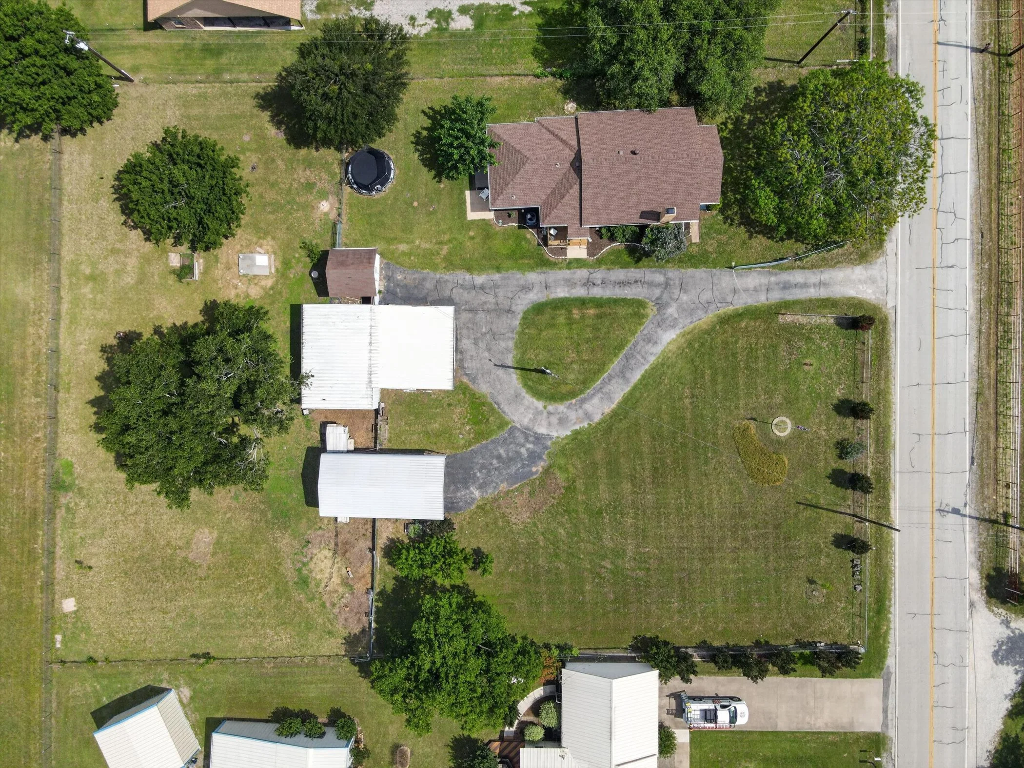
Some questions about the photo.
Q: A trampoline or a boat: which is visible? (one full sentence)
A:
There is a trampoline in the scene.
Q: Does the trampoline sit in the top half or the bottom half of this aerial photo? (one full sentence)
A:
It is in the top half that the trampoline appears.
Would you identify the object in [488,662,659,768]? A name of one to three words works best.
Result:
house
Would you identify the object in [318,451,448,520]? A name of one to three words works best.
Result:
building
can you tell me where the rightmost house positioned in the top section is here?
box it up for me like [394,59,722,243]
[485,106,723,248]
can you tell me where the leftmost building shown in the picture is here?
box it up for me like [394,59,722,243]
[93,678,212,768]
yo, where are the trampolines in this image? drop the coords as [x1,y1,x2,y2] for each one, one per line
[344,141,394,196]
